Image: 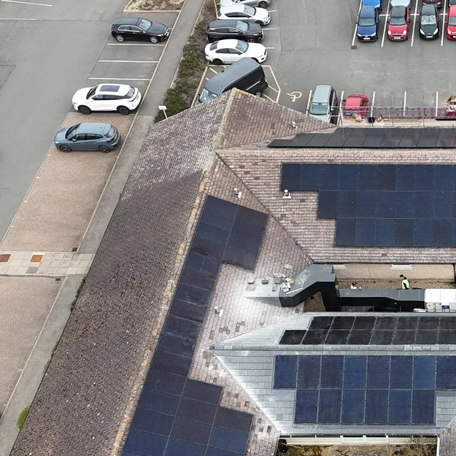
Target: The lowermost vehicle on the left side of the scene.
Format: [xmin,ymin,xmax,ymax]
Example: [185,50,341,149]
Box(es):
[54,121,119,152]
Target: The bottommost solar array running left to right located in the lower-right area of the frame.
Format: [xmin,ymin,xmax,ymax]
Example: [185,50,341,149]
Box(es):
[272,356,456,425]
